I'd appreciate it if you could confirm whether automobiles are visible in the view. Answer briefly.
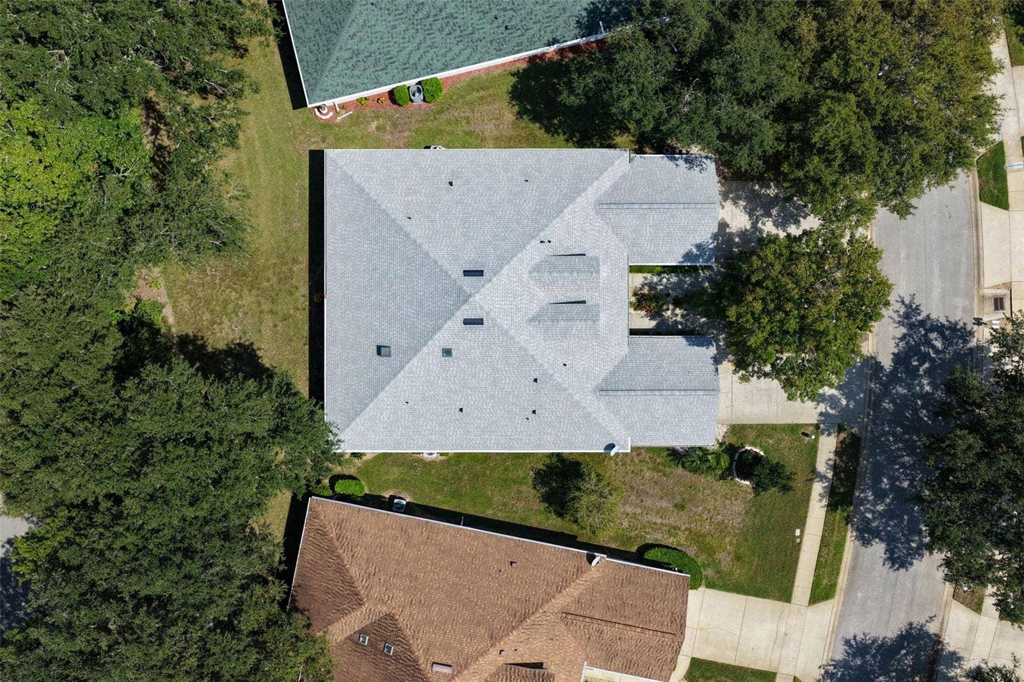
No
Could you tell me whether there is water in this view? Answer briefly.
No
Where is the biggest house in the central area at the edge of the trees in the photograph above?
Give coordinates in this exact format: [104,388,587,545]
[324,147,722,455]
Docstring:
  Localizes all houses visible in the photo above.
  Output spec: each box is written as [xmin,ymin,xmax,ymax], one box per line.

[324,147,722,455]
[281,0,686,109]
[277,496,691,682]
